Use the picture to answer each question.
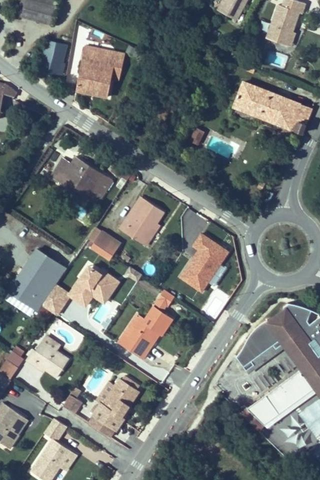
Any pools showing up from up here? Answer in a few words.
Yes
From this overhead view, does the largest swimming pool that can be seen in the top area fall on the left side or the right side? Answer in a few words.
right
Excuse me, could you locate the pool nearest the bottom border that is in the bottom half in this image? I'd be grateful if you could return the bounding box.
[82,364,112,396]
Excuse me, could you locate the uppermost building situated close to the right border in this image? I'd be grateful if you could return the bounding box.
[266,0,306,46]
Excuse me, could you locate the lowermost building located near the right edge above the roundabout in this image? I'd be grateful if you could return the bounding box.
[232,81,312,135]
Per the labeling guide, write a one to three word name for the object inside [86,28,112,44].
swimming pool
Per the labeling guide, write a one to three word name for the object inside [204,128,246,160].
swimming pool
